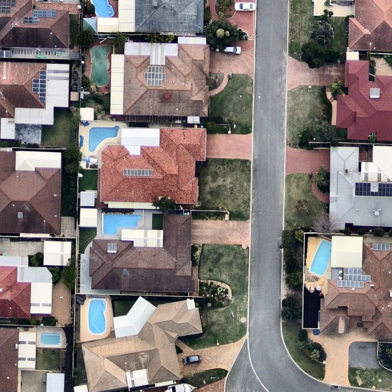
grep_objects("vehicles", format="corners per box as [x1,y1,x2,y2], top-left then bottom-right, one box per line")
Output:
[234,2,255,11]
[182,354,202,364]
[222,46,242,55]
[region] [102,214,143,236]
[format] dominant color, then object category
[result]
blue swimming pool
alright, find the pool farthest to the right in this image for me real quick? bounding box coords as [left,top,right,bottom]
[308,238,332,277]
